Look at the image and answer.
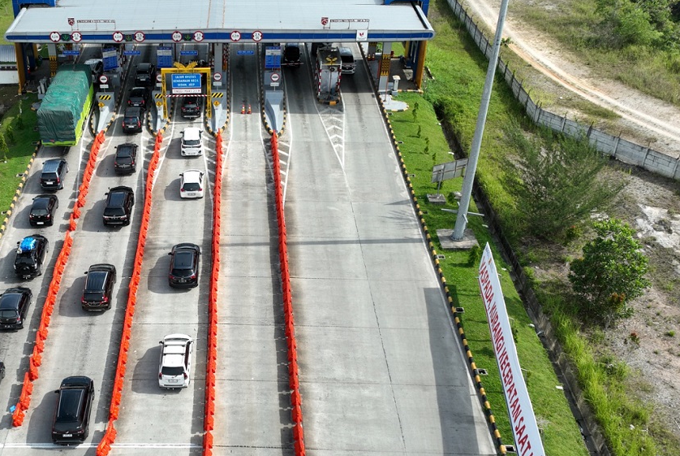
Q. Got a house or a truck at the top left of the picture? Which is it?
truck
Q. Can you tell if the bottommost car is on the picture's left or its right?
left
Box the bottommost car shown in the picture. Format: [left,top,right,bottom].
[51,377,95,444]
